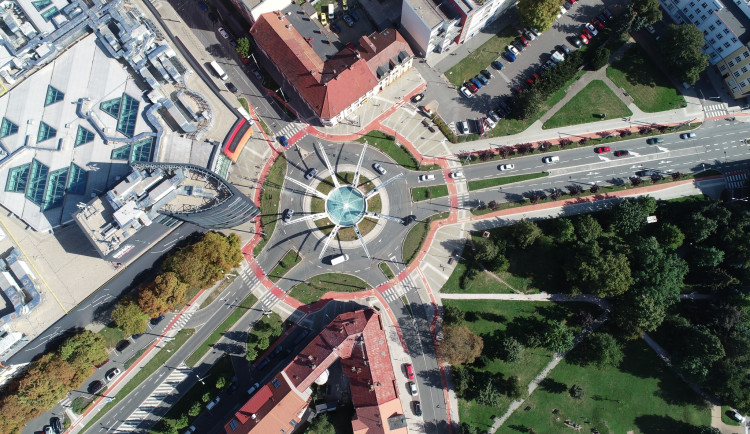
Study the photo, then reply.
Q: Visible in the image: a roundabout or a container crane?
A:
roundabout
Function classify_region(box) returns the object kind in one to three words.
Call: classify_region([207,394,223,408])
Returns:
vehicle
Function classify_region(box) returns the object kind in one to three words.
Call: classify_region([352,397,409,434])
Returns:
house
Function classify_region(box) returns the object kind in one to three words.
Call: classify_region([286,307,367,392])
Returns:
house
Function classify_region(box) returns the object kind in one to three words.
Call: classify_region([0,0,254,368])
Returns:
building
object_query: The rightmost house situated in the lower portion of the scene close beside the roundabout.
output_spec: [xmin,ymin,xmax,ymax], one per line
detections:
[342,307,399,407]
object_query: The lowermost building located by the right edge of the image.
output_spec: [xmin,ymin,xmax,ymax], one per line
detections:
[711,40,750,111]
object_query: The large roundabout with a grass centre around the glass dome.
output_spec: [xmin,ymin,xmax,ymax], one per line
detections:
[286,149,406,267]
